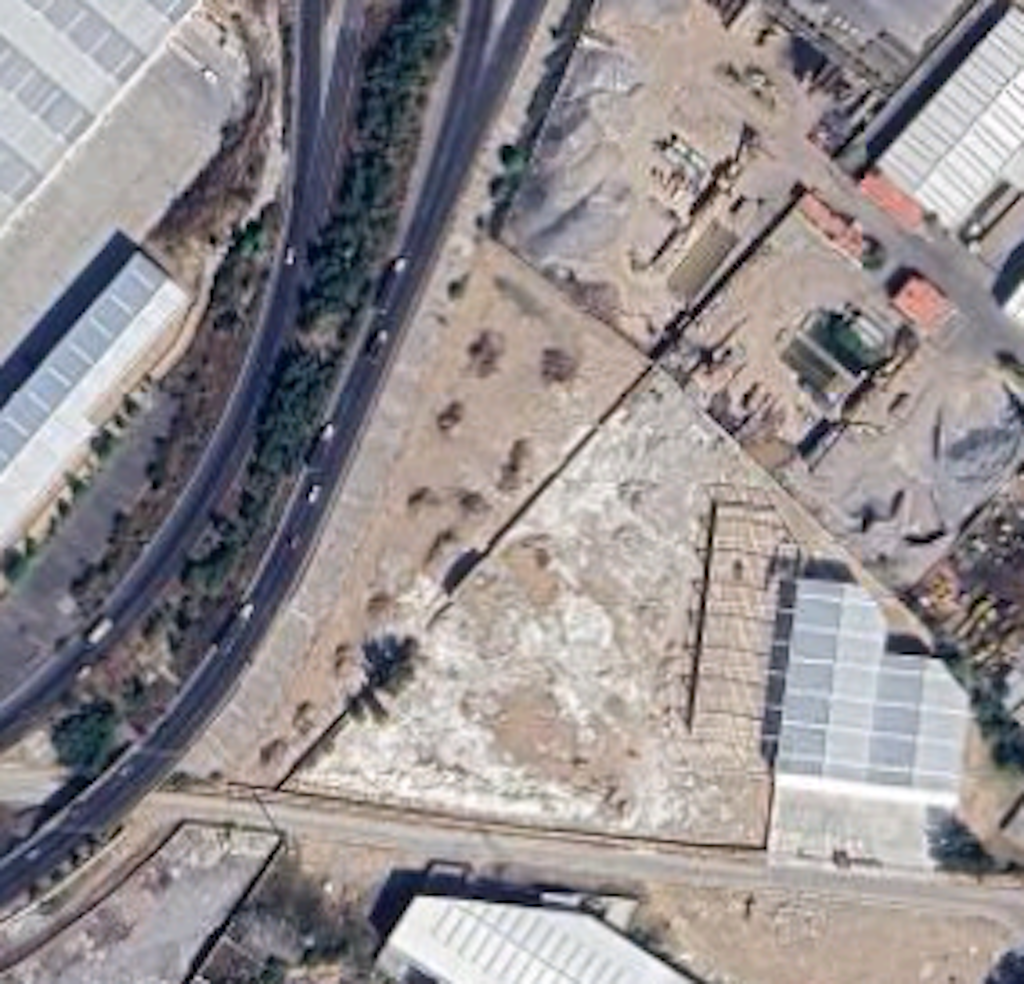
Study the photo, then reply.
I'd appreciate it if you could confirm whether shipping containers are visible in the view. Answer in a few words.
Yes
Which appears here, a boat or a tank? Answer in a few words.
tank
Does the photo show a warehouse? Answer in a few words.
Yes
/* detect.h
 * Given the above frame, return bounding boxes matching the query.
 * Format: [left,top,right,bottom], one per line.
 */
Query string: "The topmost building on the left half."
[0,0,202,233]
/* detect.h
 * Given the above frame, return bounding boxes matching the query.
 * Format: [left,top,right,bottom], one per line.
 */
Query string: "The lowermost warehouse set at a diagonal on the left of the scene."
[0,252,189,524]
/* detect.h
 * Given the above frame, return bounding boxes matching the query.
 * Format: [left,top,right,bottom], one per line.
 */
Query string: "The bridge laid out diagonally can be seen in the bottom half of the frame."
[0,741,188,900]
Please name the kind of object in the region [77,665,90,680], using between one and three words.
vehicle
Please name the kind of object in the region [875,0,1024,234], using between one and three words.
warehouse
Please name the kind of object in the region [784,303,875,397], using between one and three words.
shed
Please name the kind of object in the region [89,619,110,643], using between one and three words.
truck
